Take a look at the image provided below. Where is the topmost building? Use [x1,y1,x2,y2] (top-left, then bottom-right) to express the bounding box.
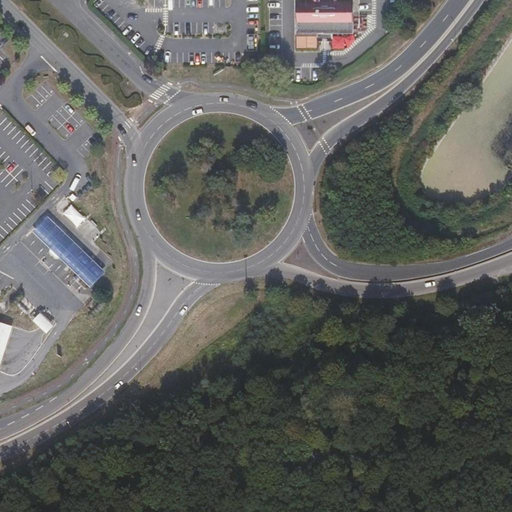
[296,0,354,33]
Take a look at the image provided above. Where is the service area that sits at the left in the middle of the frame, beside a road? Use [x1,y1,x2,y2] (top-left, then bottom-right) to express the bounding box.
[0,201,113,304]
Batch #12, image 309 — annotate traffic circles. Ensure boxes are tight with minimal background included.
[124,92,314,282]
